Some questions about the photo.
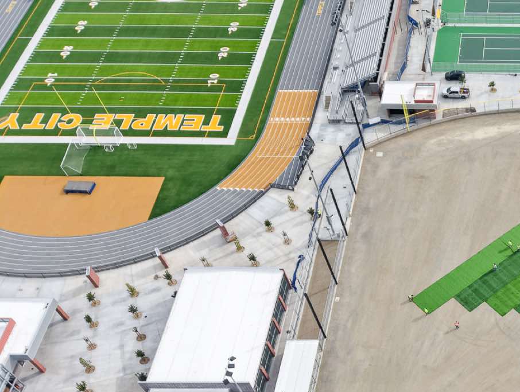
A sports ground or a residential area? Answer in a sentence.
It's a sports ground.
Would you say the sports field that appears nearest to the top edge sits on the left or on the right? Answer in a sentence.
You can find the sports field that appears nearest to the top edge on the left side of the picture.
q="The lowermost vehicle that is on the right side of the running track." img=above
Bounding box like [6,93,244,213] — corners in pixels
[444,85,472,98]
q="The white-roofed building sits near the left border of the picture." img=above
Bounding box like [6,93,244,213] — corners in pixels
[0,299,70,381]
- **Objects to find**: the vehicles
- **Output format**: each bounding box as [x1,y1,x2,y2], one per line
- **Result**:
[444,85,472,98]
[443,68,466,79]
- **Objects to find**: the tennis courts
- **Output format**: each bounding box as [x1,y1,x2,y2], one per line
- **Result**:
[440,0,520,24]
[432,26,520,76]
